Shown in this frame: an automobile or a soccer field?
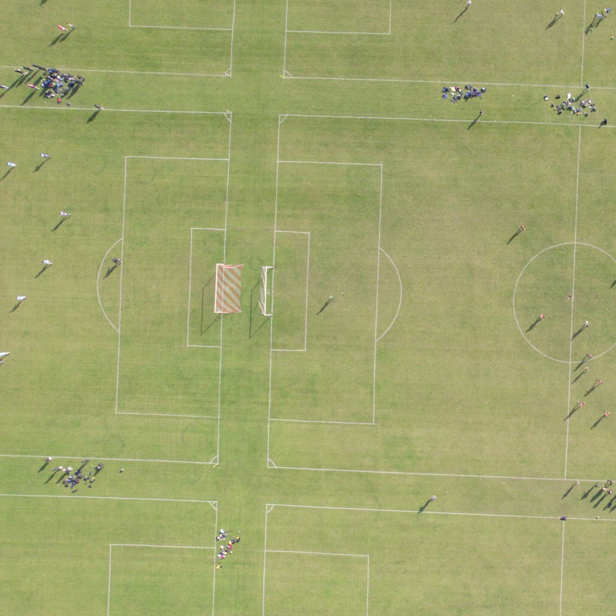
soccer field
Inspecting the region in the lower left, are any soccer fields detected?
Yes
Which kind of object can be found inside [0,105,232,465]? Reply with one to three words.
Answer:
soccer field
